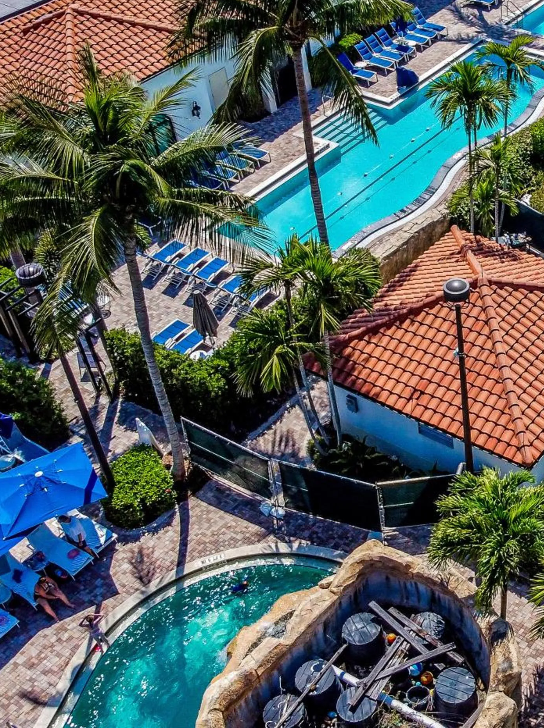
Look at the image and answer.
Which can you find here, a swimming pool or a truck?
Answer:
swimming pool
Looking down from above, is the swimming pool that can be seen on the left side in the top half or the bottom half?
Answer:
bottom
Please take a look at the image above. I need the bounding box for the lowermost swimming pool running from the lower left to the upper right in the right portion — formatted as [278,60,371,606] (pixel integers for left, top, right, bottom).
[221,45,544,259]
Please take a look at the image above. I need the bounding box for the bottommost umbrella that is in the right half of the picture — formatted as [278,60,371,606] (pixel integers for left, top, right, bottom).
[388,62,417,93]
